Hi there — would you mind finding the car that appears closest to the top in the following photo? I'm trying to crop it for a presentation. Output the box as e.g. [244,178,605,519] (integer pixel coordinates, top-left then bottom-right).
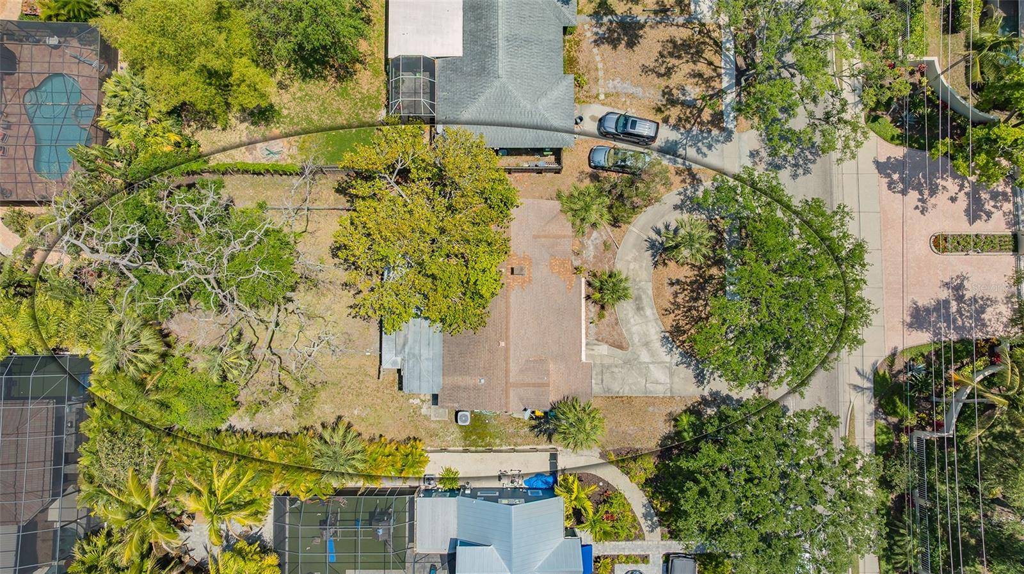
[594,108,661,146]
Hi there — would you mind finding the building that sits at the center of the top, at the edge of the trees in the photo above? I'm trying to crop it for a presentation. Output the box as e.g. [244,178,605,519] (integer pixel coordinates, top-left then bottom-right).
[435,0,578,148]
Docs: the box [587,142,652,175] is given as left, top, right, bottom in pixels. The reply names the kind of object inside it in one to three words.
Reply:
car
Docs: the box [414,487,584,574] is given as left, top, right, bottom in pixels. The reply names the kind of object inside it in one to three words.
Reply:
house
